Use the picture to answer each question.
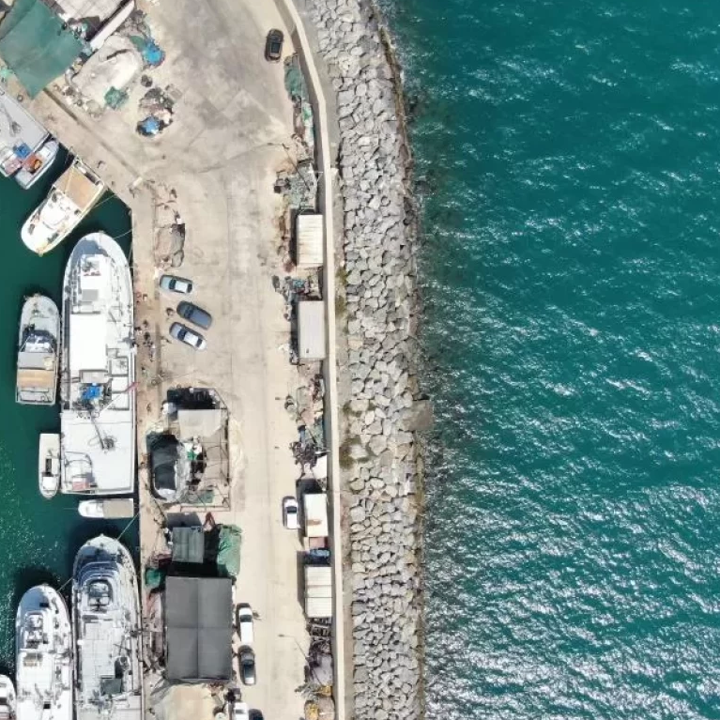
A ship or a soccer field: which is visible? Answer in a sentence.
I can see a ship in this picture.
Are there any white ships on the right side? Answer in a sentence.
No, looking on the right side, there is no white ship.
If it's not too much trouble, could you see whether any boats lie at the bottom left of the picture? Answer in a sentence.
Yes, looking at the bottom left of the picture, one can make out a boat.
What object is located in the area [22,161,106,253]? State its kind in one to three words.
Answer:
boat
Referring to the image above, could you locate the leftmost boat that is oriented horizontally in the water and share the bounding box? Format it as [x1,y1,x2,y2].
[77,498,134,519]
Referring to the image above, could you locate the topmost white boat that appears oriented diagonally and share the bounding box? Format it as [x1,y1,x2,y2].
[14,137,57,189]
